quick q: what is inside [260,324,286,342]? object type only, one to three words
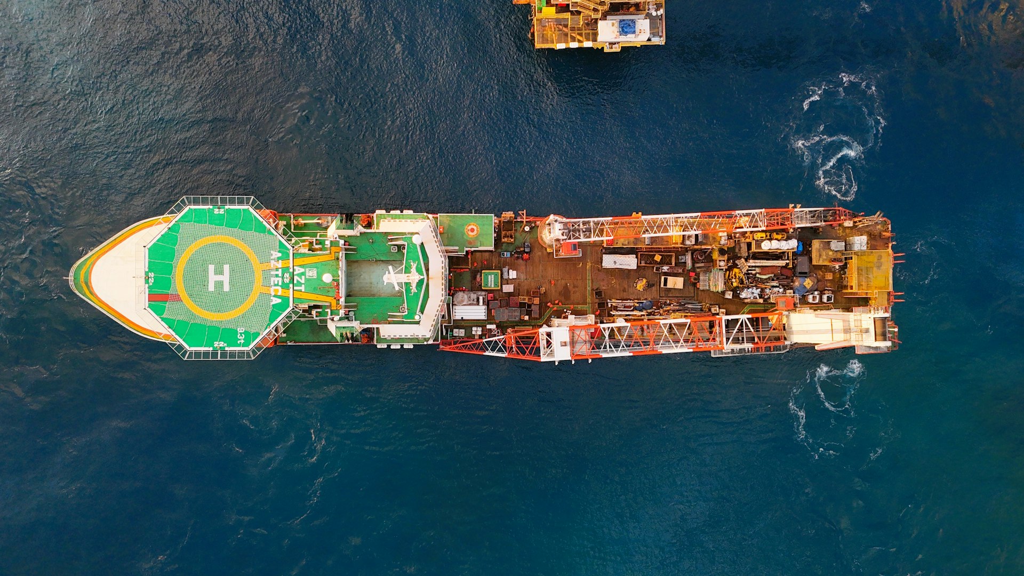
boat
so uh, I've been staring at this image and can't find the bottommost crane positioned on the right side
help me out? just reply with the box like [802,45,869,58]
[439,294,893,365]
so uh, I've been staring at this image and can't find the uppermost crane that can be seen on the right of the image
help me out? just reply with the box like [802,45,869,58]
[537,203,865,258]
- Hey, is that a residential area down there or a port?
port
